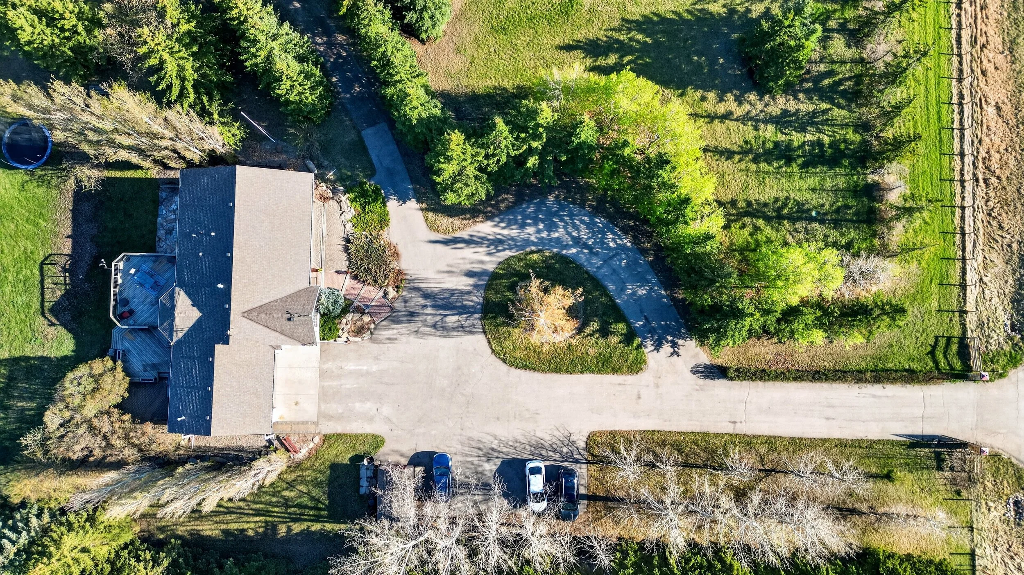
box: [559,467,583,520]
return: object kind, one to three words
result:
car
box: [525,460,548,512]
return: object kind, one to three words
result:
car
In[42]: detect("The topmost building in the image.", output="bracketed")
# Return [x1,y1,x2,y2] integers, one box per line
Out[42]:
[157,165,325,437]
